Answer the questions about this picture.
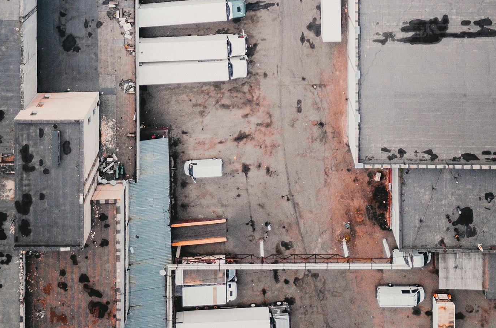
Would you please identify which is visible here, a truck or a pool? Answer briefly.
truck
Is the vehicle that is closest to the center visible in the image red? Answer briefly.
No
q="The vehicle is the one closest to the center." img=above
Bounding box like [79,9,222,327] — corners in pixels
[185,158,222,184]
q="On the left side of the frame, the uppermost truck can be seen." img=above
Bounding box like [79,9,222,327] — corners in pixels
[140,0,247,27]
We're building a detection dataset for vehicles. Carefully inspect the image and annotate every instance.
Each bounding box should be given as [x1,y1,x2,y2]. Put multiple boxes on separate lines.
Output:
[431,289,455,328]
[321,0,342,42]
[176,304,291,328]
[141,55,250,84]
[137,27,247,61]
[140,0,247,27]
[182,273,238,305]
[378,287,424,312]
[185,158,222,184]
[393,247,430,269]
